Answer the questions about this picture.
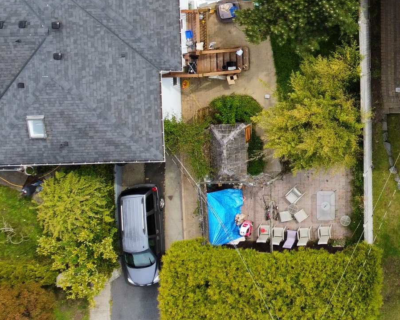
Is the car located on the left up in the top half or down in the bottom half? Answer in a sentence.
Seen from above, the car located on the left lies in the bottom half of the view.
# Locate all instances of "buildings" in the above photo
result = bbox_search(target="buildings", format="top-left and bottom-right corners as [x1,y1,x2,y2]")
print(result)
[211,124,255,181]
[0,0,199,171]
